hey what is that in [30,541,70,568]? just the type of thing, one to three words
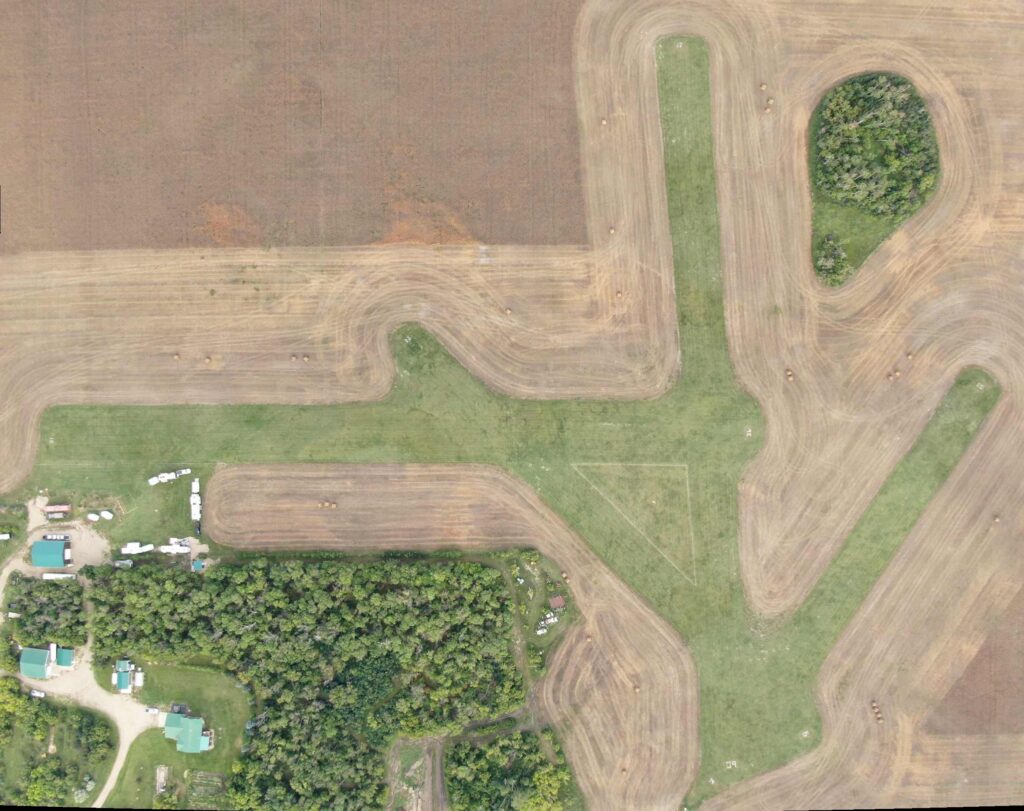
building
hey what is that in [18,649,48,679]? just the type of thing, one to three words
barn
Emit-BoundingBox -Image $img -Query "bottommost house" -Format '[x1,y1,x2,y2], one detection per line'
[165,704,210,754]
